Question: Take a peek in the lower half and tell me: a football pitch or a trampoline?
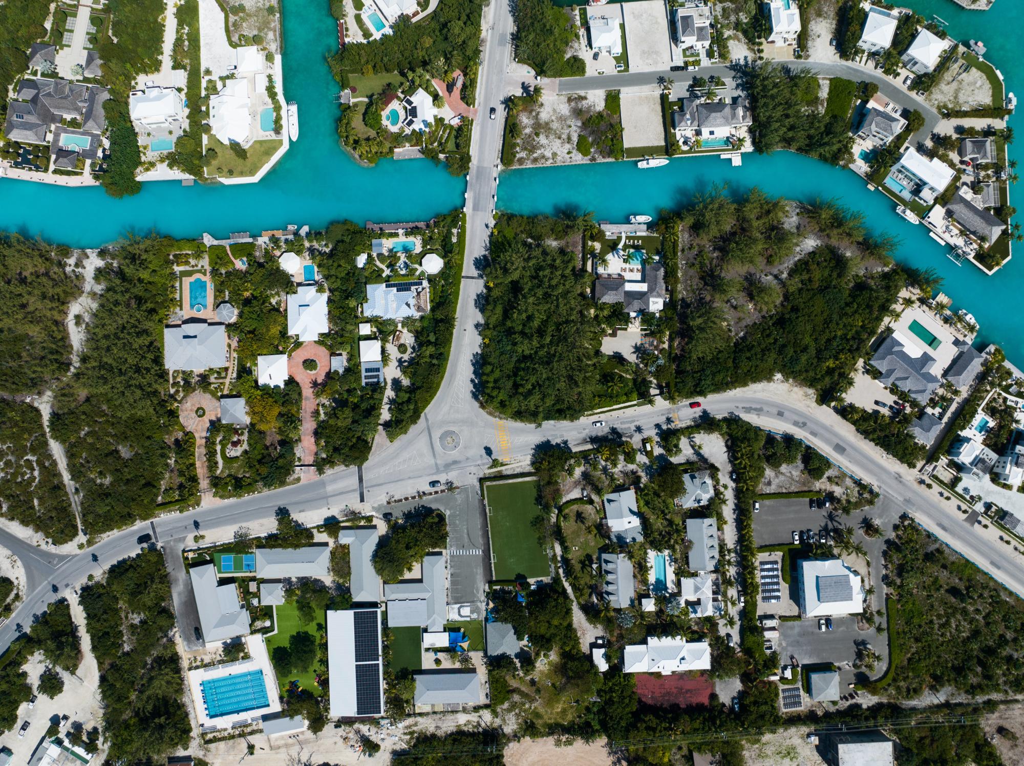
football pitch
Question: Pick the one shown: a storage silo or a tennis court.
tennis court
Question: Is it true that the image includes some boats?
Yes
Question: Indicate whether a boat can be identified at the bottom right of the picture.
No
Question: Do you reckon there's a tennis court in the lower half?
Yes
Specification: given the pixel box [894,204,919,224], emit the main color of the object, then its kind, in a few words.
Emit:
white boat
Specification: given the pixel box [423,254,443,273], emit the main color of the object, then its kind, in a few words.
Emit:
white gazebo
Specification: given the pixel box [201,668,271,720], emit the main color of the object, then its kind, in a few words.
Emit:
blue swimming pool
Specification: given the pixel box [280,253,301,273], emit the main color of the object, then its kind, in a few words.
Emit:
white gazebo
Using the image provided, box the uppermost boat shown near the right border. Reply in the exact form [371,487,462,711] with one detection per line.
[970,40,987,56]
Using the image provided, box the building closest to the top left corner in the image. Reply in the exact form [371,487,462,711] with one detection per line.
[28,42,61,69]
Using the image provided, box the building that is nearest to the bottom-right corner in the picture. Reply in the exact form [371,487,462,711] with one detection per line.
[827,730,894,766]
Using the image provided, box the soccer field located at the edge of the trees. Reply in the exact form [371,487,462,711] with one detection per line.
[485,480,550,581]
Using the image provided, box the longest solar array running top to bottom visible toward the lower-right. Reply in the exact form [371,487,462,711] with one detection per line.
[760,558,786,602]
